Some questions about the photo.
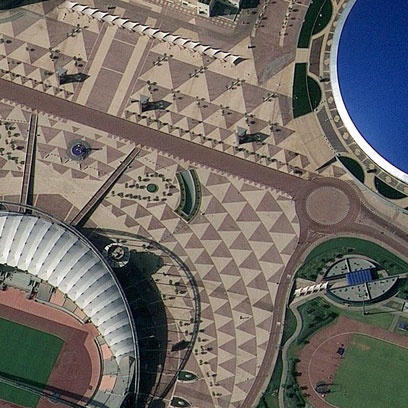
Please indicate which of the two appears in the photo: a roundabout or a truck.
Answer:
roundabout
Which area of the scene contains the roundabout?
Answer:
right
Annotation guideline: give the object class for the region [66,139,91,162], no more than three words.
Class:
fountain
